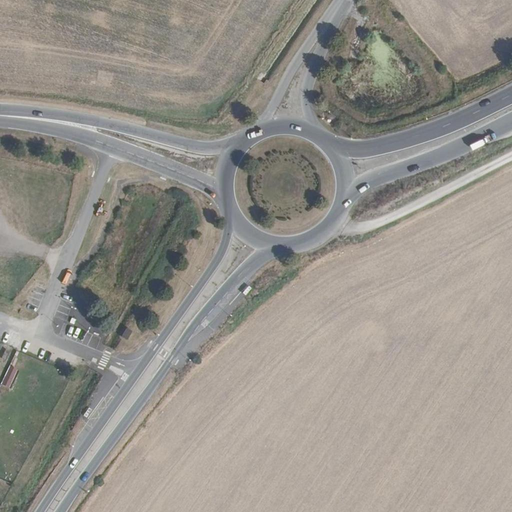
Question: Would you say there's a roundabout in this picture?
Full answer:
Yes, the frame does contain a roundabout.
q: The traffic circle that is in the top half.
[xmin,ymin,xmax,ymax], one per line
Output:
[215,116,356,256]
